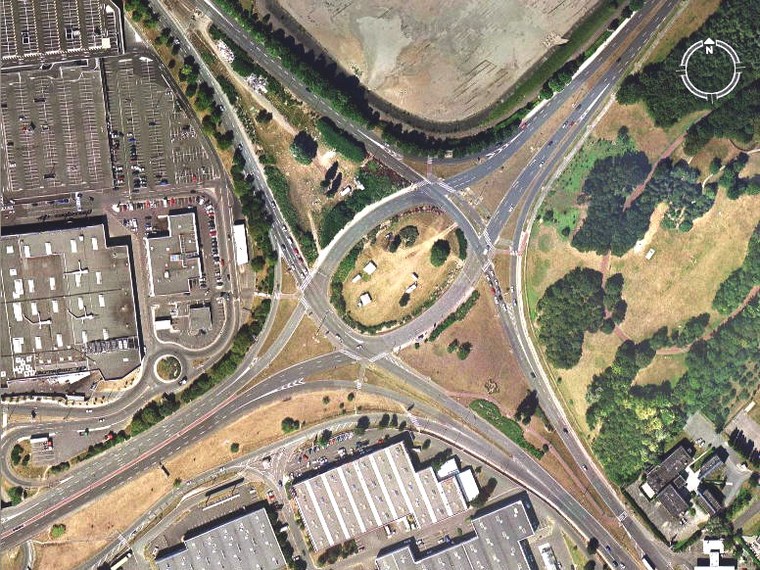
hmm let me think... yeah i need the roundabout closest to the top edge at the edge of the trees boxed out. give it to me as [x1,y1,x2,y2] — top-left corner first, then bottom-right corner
[304,181,489,361]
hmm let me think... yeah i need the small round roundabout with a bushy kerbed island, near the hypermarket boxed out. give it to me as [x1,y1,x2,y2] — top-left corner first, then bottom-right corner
[143,344,192,393]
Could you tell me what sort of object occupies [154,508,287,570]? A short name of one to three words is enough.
building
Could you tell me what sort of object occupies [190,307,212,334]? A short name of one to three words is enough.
building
